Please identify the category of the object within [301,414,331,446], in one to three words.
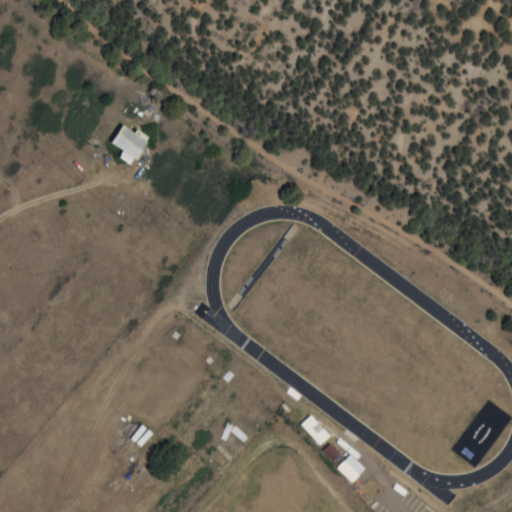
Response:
building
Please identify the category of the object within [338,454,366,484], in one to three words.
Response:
building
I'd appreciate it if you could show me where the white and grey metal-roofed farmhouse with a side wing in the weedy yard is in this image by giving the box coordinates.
[111,124,150,164]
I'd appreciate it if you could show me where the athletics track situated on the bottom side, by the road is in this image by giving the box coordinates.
[196,206,512,504]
